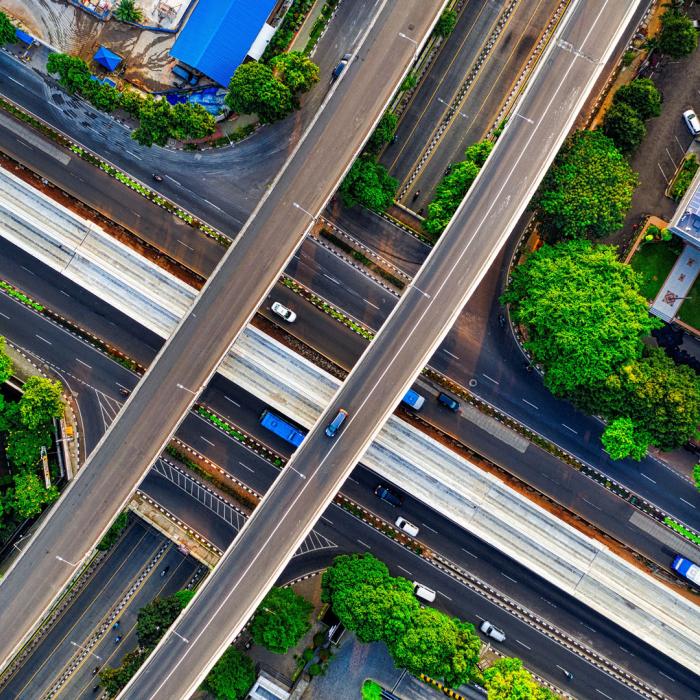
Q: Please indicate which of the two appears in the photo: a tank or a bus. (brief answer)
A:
bus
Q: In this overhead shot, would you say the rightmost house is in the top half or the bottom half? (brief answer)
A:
top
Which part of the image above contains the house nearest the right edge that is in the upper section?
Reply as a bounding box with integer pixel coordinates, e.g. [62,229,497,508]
[662,174,700,255]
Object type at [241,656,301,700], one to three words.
house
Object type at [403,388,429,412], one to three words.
bus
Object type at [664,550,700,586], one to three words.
bus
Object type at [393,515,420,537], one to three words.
car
